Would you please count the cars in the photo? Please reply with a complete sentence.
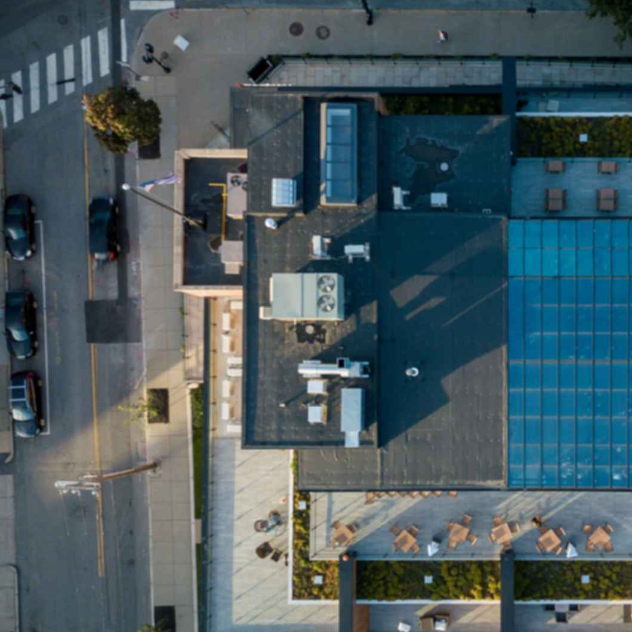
In total, there are 4 cars in the scene.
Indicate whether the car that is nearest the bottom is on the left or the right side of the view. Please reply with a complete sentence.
It is on the left.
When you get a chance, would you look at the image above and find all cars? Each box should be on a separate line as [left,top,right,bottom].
[3,293,39,356]
[10,372,46,435]
[3,195,39,261]
[87,198,121,262]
